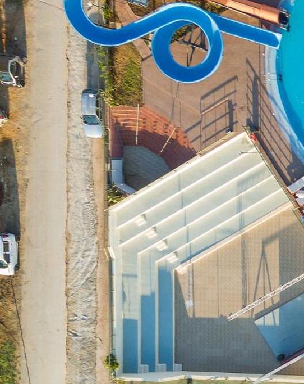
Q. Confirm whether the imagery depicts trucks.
No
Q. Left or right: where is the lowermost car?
left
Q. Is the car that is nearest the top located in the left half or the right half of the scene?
left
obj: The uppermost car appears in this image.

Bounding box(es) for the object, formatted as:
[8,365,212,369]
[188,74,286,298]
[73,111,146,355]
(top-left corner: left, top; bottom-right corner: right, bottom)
[0,52,27,89]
